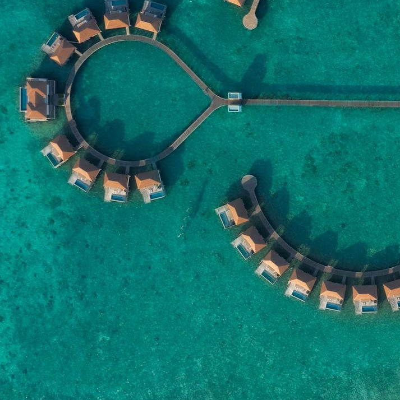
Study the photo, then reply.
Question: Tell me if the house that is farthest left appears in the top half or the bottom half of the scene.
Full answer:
Seen from above, the house that is farthest left lies in the top half of the view.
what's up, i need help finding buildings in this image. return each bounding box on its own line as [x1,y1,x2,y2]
[231,227,267,261]
[104,173,133,204]
[285,267,318,302]
[70,8,103,43]
[42,134,78,169]
[42,31,79,66]
[135,0,169,33]
[215,198,250,229]
[255,250,290,286]
[353,284,379,316]
[69,158,104,194]
[135,170,168,205]
[321,281,347,311]
[104,0,133,30]
[225,93,240,112]
[384,279,400,312]
[19,79,58,121]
